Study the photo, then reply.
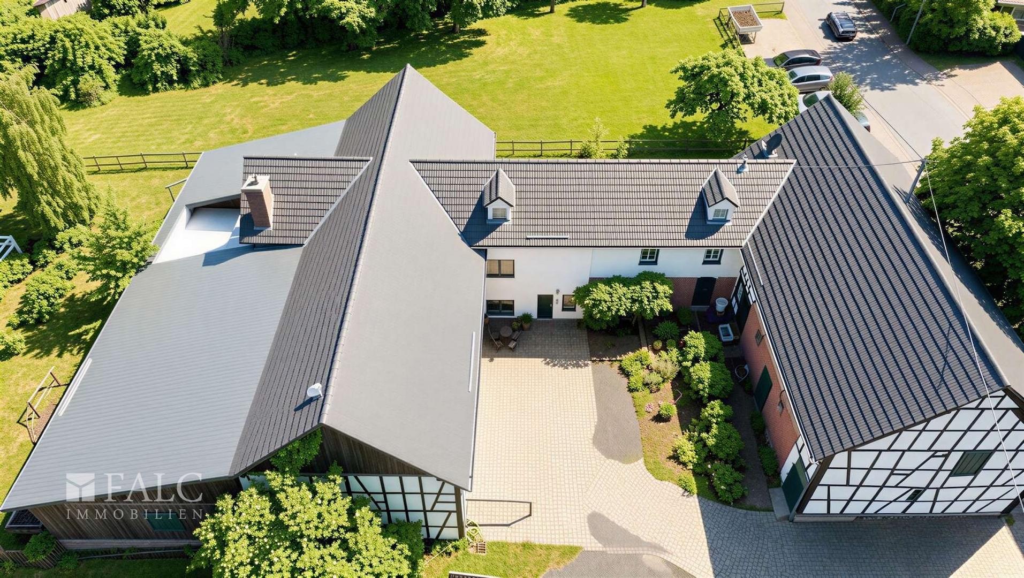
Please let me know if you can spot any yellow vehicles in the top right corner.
No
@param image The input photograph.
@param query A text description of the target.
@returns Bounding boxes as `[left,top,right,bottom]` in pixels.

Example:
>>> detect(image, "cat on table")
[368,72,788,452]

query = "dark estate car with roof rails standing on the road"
[824,9,865,40]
